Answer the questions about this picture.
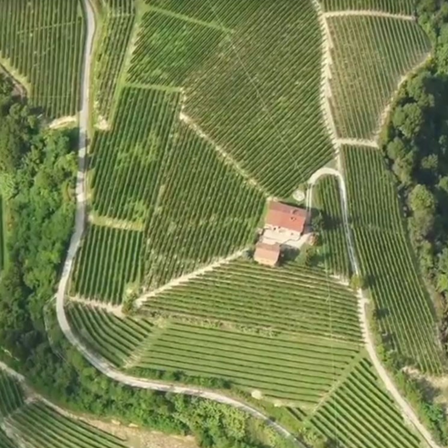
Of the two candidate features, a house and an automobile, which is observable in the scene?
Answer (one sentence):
I can see a house in this picture.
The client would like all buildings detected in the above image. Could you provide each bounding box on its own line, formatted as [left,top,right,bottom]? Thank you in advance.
[262,203,307,239]
[255,242,281,267]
